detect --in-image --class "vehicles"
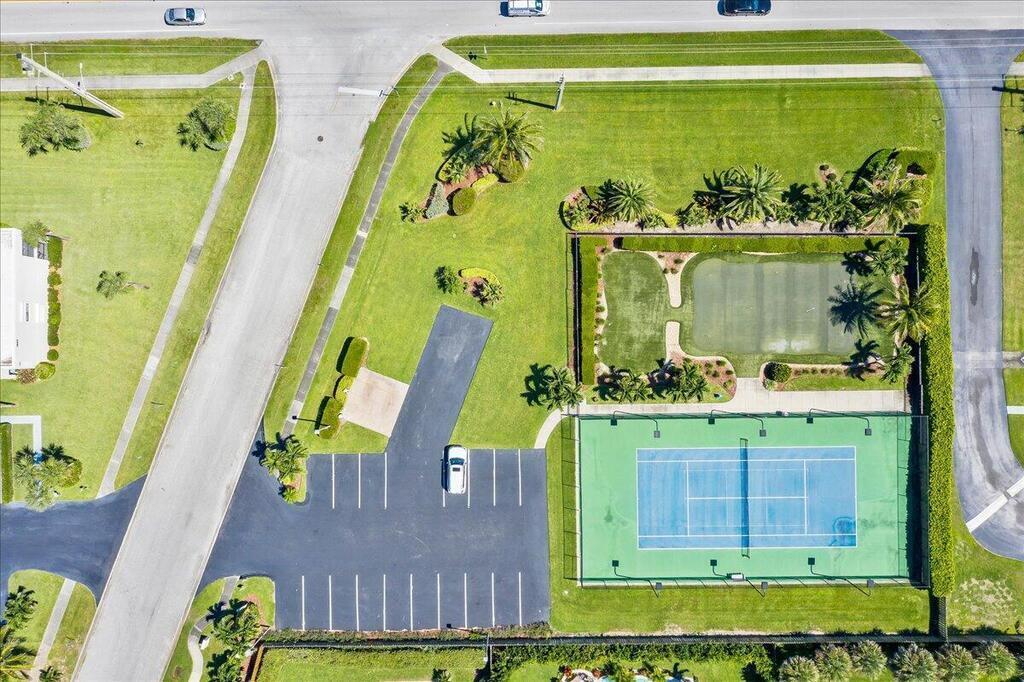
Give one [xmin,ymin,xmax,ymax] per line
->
[446,447,468,493]
[507,0,552,17]
[161,3,205,26]
[728,0,775,16]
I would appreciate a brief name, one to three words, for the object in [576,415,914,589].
tennis court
